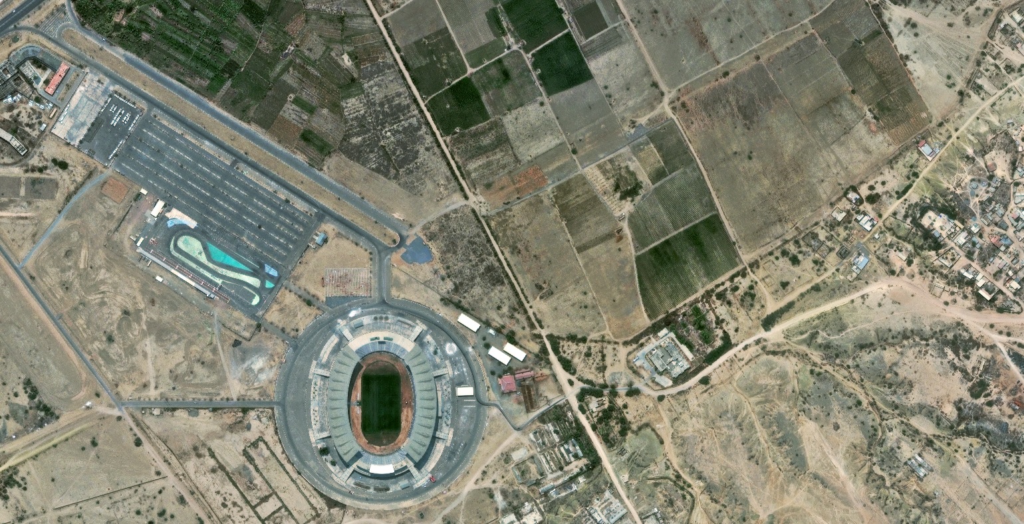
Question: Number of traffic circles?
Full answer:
I count no traffic circles.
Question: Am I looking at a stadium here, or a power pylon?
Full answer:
The one in the frame is a stadium.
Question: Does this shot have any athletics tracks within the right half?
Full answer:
No, looking within the right half, there is no athletics track.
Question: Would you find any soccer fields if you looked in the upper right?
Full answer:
No, looking in the upper right, there is no soccer field.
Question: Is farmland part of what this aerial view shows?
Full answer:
Yes, farmland can be seen from above here.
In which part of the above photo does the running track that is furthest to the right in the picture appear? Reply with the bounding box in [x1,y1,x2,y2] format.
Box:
[349,351,413,455]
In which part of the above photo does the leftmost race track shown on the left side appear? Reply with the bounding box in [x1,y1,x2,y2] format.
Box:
[142,208,291,317]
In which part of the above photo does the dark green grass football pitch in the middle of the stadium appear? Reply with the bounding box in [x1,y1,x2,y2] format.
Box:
[361,361,401,446]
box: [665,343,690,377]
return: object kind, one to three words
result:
house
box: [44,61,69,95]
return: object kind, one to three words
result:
building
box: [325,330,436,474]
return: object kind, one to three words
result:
stadium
